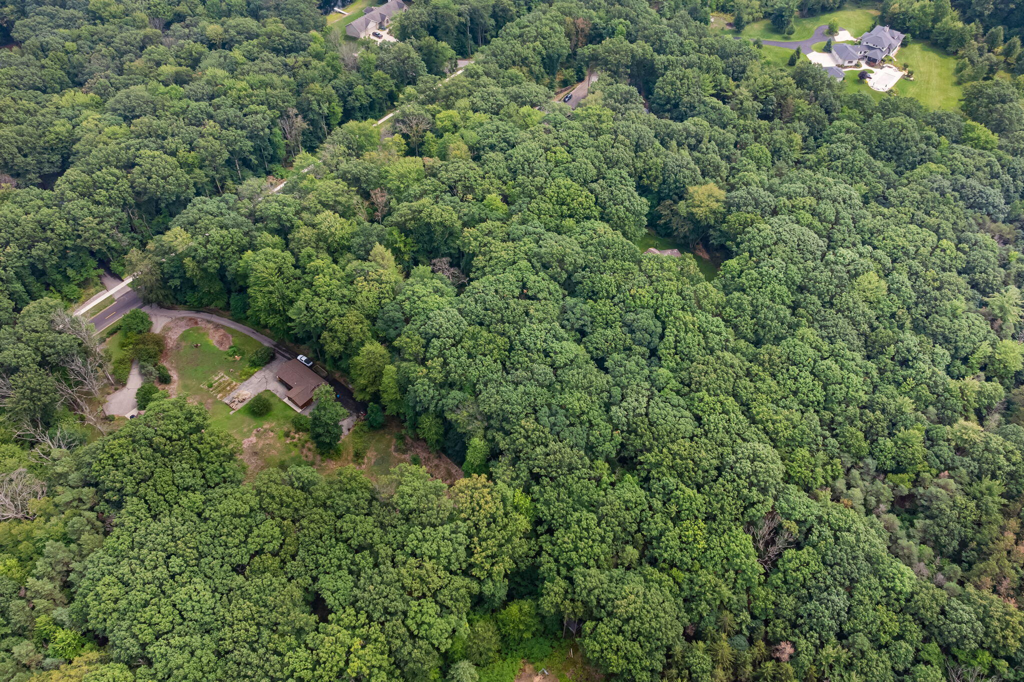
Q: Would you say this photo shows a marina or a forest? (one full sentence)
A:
This looks like a forest.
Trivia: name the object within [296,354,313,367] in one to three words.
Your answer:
vehicle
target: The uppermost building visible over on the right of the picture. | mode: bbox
[827,18,911,65]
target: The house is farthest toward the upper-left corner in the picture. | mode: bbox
[345,0,415,41]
